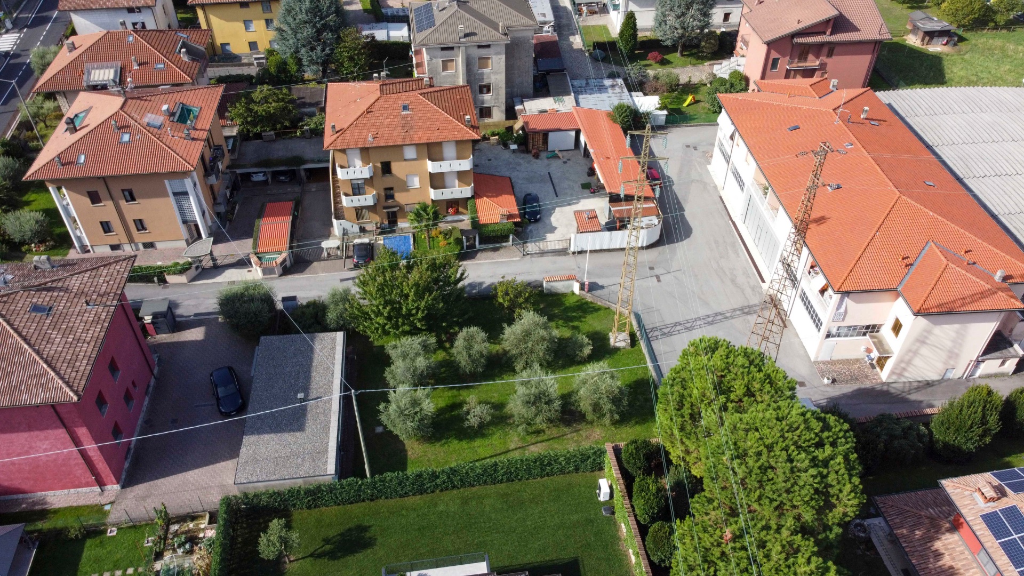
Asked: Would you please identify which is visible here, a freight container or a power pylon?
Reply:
power pylon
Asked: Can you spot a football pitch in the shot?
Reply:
No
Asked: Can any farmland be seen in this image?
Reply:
No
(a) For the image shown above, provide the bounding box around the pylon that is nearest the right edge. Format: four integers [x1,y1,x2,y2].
[705,141,854,456]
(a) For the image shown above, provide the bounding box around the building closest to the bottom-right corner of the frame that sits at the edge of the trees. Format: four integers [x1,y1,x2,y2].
[871,465,1024,576]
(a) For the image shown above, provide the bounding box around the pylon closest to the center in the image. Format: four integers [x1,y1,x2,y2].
[609,126,669,350]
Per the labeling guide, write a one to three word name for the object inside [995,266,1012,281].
chimney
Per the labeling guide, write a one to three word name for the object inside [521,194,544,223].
car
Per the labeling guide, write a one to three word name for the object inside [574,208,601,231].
shed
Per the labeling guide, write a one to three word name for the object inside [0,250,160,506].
house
